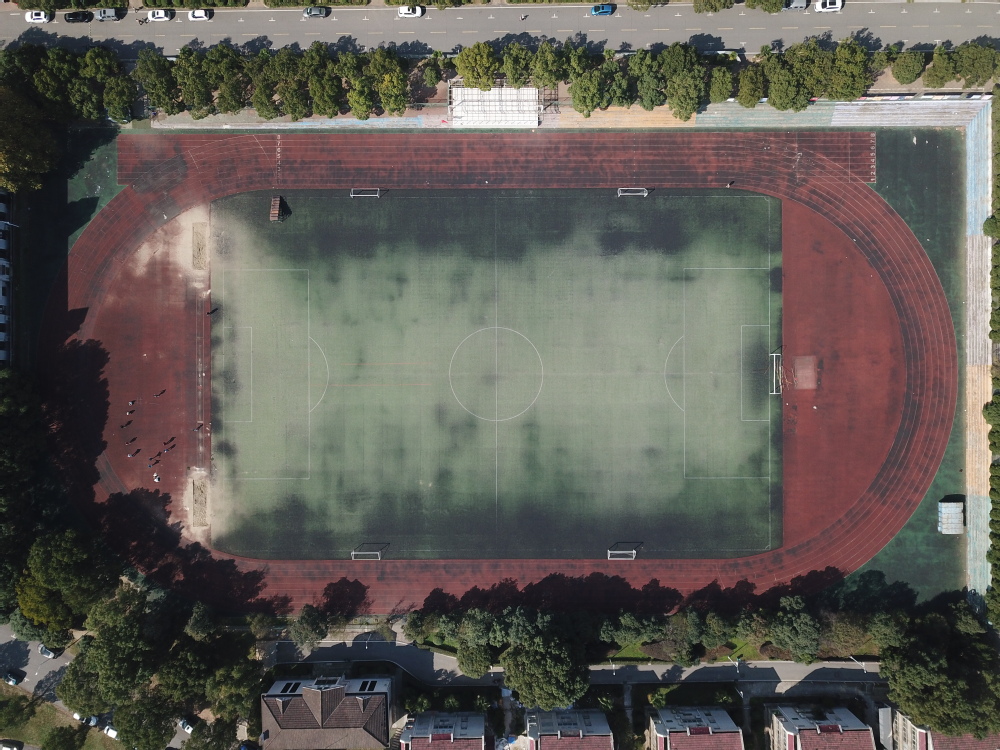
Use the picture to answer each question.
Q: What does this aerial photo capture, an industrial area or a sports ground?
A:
sports ground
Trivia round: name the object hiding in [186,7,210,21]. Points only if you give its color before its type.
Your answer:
white vehicle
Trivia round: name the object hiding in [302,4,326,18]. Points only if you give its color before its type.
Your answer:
gray vehicle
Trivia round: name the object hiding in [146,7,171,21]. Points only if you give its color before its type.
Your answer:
white vehicle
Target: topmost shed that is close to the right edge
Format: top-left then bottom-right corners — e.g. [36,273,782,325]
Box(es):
[933,501,962,533]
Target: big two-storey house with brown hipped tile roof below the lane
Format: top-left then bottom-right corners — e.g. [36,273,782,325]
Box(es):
[262,659,394,750]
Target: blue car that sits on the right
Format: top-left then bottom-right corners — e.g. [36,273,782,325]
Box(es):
[592,1,613,15]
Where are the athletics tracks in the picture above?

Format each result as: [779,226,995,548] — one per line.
[42,133,958,612]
